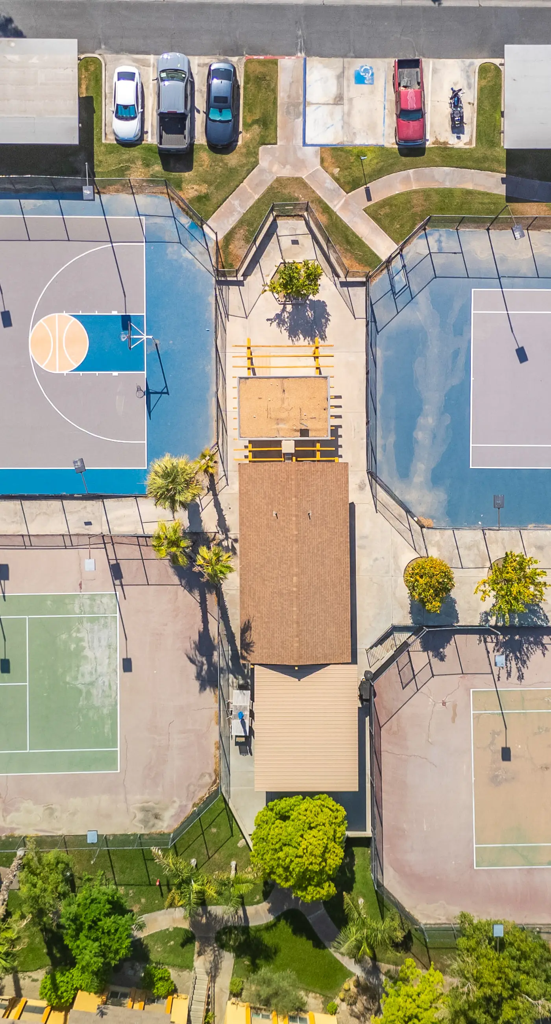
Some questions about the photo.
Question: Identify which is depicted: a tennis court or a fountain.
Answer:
tennis court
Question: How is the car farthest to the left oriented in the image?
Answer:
vertically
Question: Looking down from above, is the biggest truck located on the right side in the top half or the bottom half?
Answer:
top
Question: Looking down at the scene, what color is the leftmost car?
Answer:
white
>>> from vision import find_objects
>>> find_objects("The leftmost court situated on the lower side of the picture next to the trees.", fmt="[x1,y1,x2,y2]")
[0,535,221,833]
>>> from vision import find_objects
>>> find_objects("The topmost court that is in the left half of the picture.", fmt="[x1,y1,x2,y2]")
[0,194,216,493]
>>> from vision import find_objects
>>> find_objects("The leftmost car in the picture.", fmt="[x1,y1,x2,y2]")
[108,66,145,143]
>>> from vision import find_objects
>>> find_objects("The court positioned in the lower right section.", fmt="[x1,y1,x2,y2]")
[373,625,551,923]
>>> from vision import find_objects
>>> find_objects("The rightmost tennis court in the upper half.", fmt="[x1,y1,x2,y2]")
[366,230,551,526]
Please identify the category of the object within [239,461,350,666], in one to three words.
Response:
building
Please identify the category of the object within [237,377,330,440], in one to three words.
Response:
shed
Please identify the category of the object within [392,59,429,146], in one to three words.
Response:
truck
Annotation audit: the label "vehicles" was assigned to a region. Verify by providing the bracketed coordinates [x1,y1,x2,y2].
[450,86,466,124]
[108,66,145,143]
[392,59,429,146]
[202,63,241,148]
[153,53,194,156]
